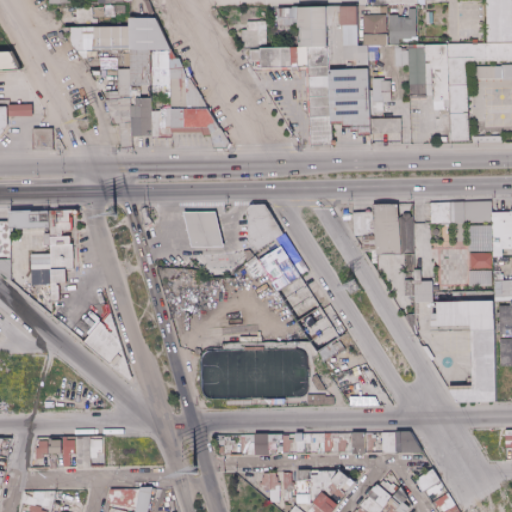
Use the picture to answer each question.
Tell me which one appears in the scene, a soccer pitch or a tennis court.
soccer pitch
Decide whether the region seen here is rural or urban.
urban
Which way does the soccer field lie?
from left to right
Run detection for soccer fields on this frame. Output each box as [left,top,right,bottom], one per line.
[200,349,308,399]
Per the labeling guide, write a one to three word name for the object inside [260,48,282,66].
building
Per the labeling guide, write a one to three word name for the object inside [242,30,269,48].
house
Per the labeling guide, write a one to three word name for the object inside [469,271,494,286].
building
